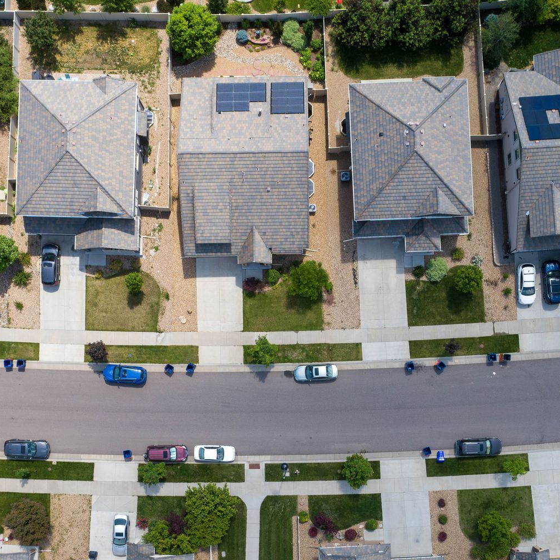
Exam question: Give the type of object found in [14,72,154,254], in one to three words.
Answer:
house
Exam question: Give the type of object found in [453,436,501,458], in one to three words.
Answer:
car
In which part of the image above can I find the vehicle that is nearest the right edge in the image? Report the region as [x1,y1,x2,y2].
[540,260,560,305]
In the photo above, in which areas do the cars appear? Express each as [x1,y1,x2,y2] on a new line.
[194,444,236,465]
[104,363,148,384]
[144,444,188,465]
[110,512,130,557]
[3,439,52,461]
[294,363,338,384]
[39,242,62,286]
[453,436,501,458]
[540,260,560,305]
[514,263,537,304]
